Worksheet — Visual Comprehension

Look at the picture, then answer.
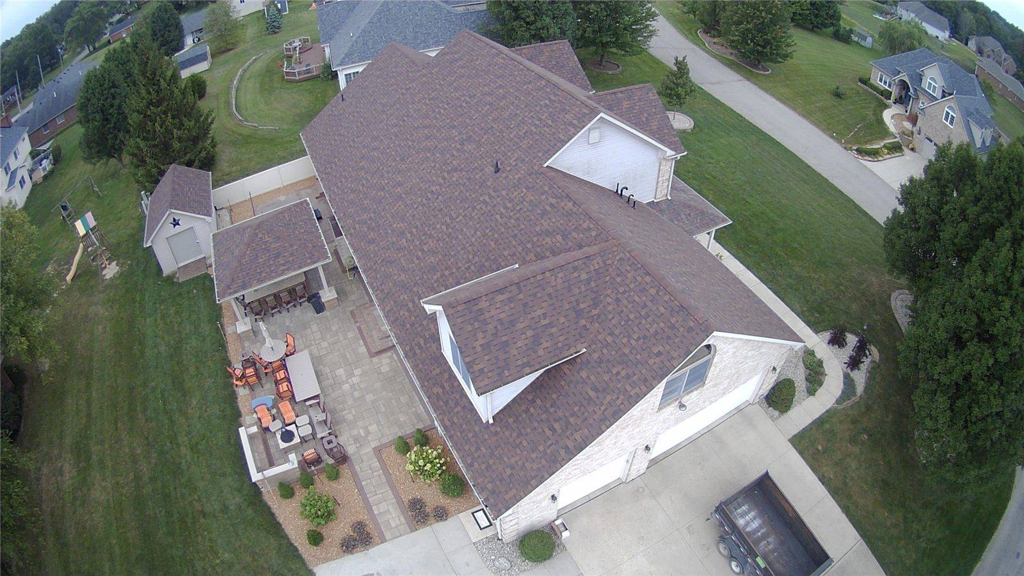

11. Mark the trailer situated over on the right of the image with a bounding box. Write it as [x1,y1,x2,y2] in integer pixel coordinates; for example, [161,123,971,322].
[707,467,842,576]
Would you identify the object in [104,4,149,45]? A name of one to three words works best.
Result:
house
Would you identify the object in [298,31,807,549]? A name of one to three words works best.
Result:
house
